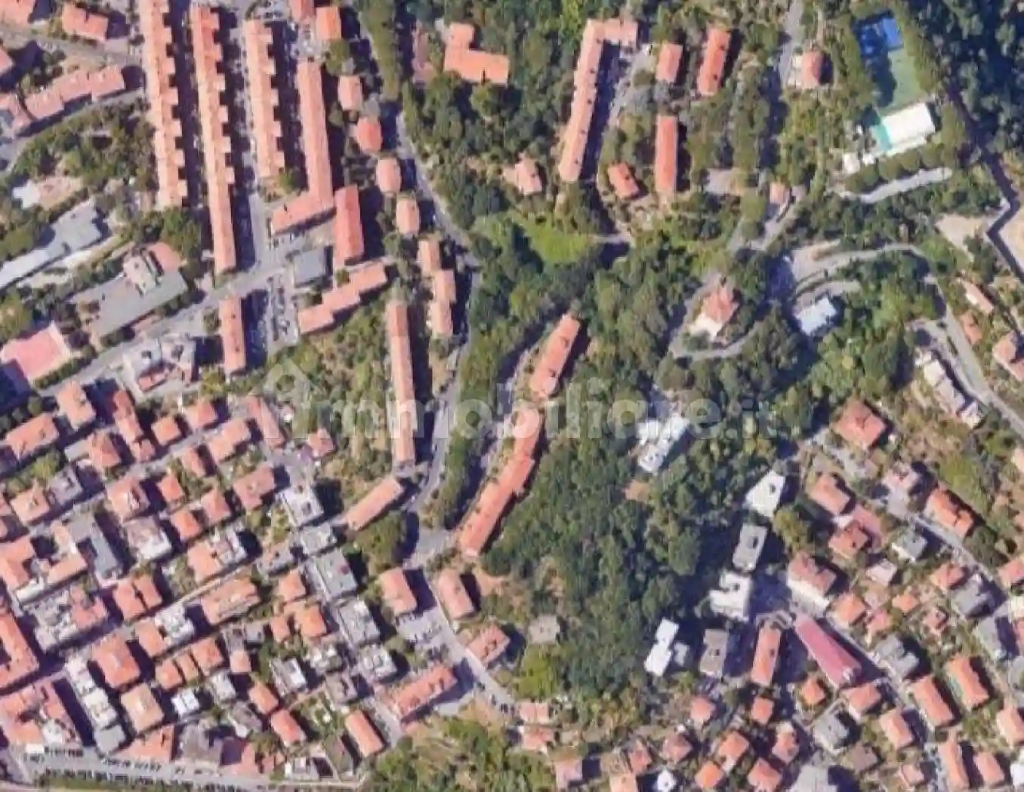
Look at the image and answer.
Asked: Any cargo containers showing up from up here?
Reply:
No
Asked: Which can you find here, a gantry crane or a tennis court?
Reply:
tennis court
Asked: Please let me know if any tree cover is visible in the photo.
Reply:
Yes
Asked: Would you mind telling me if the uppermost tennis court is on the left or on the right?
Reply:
right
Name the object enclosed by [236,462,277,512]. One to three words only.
house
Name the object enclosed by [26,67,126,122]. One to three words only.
house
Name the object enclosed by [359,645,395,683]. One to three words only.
building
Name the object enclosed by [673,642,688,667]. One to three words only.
shed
